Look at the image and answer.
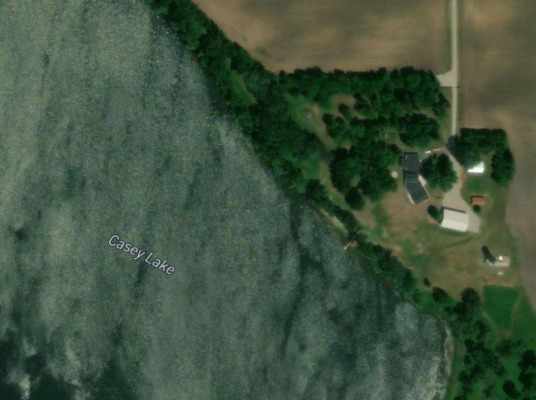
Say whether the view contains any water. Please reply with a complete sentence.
Yes, there is water in the image.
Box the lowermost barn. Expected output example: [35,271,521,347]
[441,209,470,233]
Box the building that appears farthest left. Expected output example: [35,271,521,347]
[401,155,429,205]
